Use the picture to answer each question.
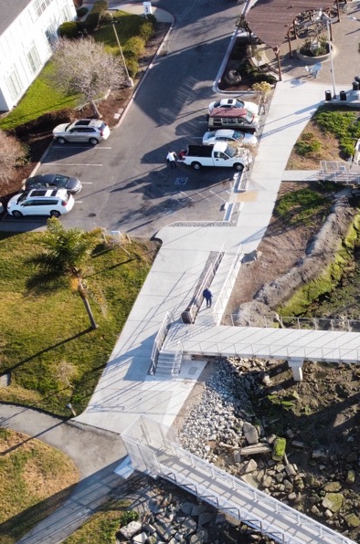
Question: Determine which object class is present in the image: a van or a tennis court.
van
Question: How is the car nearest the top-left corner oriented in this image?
from left to right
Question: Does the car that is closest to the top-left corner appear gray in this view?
Yes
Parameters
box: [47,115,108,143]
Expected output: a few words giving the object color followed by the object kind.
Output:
gray car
